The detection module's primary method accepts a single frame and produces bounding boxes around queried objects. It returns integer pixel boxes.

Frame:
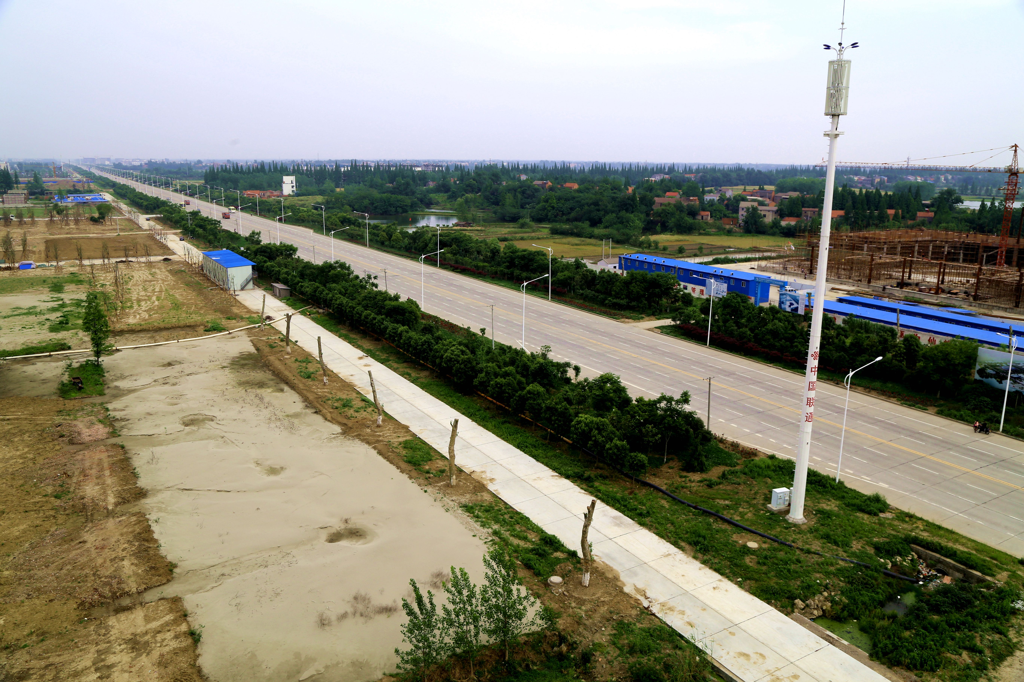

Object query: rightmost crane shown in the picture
[815,143,1024,262]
